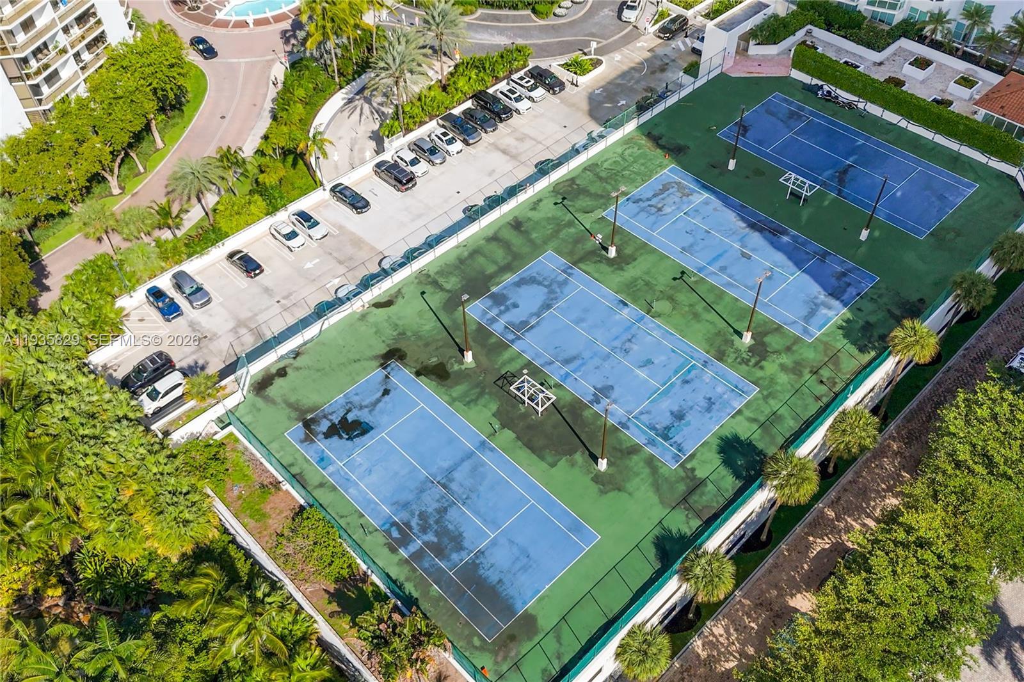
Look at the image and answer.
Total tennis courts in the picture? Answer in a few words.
4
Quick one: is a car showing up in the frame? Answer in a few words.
Yes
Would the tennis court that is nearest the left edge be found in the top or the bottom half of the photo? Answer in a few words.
bottom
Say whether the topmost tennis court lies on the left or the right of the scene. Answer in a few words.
right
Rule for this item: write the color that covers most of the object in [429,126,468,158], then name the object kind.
white car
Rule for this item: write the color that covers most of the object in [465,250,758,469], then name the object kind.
blue tennis court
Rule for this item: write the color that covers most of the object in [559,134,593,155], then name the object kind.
white truck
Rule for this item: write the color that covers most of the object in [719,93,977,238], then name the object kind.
blue tennis court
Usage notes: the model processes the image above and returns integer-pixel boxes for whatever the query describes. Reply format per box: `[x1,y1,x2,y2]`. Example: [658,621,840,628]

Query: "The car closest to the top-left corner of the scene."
[189,37,218,60]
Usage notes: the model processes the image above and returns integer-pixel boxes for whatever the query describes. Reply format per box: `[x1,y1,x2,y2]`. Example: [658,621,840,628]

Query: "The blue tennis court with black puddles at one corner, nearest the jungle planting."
[286,360,600,641]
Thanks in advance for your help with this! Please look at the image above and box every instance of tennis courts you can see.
[603,165,878,341]
[286,360,600,641]
[465,250,758,469]
[719,93,977,238]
